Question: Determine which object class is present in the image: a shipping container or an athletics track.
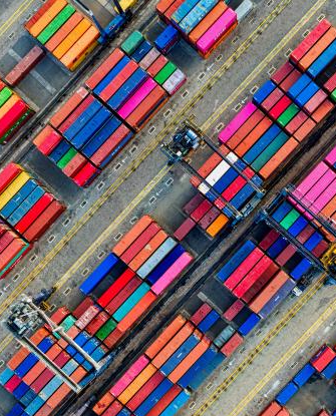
shipping container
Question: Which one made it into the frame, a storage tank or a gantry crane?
gantry crane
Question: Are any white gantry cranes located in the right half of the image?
No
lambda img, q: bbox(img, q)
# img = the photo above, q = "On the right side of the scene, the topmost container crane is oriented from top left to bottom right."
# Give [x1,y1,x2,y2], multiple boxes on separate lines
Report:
[163,120,265,225]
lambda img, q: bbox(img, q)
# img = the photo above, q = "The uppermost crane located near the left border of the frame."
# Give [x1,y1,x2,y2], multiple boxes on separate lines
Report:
[0,284,121,392]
